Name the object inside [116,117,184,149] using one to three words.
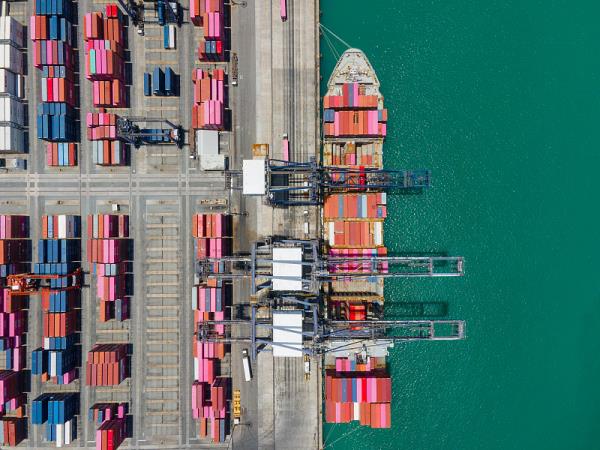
container crane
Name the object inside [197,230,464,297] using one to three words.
container crane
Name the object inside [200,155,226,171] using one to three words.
building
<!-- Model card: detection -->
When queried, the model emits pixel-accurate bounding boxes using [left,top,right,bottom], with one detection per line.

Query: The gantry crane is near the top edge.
[118,0,184,26]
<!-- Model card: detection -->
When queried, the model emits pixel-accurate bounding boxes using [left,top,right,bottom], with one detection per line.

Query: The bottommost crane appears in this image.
[197,284,465,360]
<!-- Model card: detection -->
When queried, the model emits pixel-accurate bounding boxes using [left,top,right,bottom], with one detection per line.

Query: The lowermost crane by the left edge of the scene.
[2,266,84,294]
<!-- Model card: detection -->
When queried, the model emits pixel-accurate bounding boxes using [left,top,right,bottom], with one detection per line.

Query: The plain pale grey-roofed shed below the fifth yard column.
[197,130,220,155]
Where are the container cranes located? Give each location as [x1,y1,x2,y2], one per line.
[224,157,430,213]
[118,0,184,26]
[197,230,464,297]
[116,117,184,149]
[2,266,84,294]
[197,284,465,360]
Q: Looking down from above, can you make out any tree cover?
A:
No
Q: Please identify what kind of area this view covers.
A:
port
